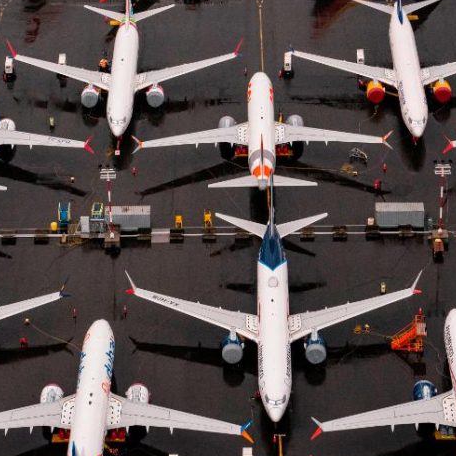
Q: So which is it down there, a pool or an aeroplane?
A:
aeroplane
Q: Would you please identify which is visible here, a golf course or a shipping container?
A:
shipping container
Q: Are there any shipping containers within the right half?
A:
Yes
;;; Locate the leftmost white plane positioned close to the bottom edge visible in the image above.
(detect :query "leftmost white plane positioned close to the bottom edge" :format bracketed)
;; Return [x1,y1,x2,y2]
[0,319,252,456]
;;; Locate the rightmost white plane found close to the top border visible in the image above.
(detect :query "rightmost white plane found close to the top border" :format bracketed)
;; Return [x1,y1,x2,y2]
[285,0,456,137]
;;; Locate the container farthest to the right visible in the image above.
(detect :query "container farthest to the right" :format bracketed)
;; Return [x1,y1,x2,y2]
[375,200,426,227]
